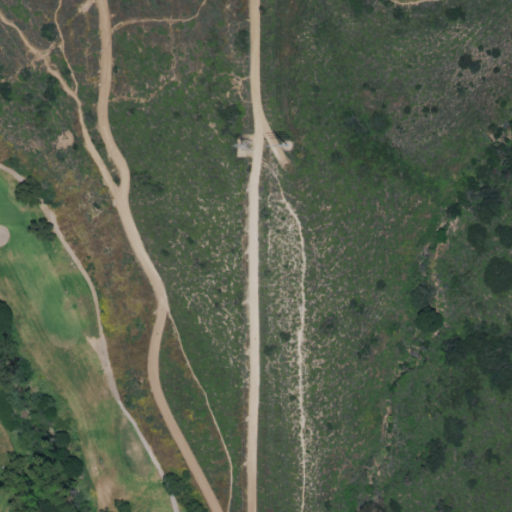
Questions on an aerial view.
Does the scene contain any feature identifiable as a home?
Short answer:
No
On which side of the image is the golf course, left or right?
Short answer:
left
